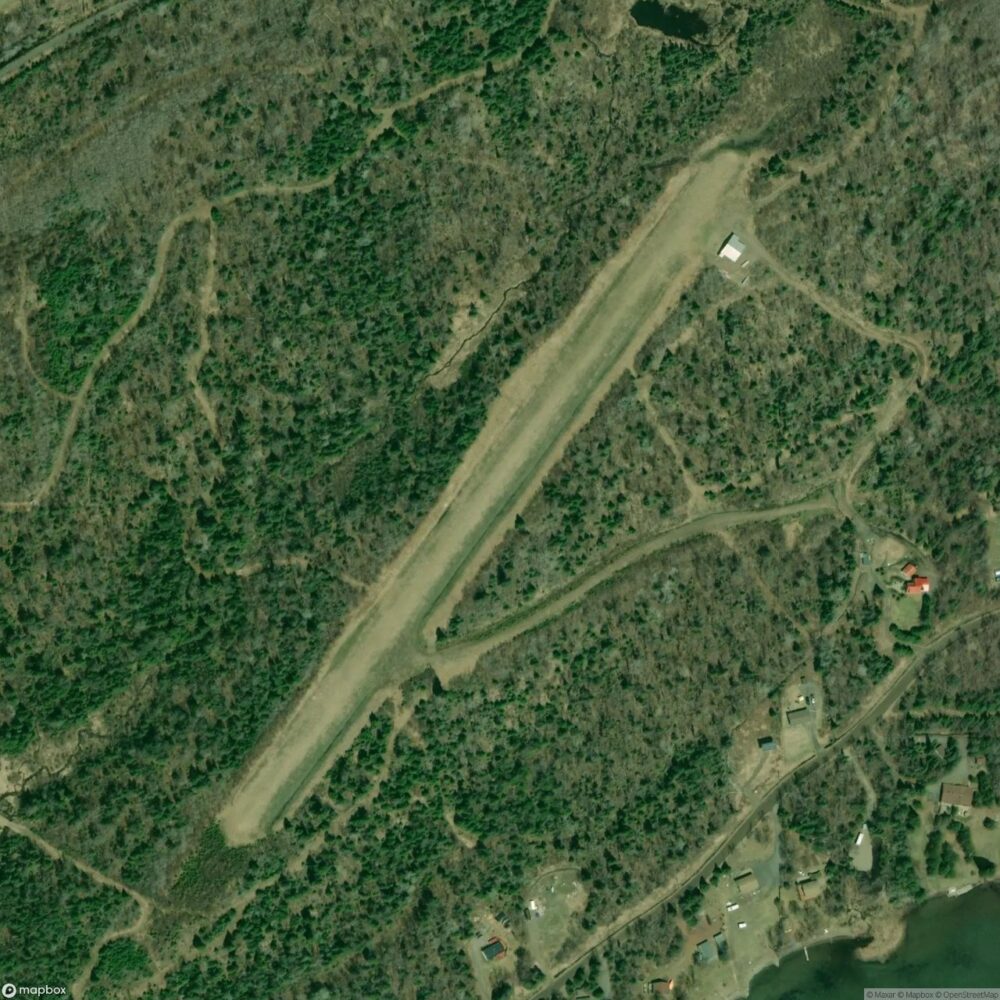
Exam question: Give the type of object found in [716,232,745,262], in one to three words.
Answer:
hangar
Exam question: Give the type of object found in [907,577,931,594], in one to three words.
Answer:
house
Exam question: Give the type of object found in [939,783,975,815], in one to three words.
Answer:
house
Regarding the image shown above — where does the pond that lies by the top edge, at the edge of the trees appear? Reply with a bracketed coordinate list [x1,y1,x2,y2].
[630,0,710,39]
